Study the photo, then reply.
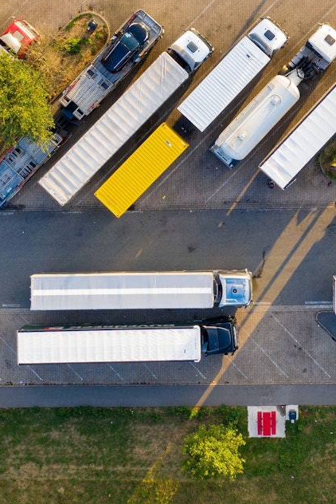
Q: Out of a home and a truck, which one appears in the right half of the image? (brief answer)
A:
truck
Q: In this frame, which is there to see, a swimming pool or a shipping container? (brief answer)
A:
shipping container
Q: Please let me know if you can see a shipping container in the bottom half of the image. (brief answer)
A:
No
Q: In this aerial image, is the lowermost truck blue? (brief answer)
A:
No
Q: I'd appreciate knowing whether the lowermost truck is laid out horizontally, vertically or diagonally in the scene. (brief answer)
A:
horizontally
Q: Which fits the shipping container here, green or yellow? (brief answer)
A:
yellow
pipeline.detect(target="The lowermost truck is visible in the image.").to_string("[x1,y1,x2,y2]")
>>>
[17,318,239,365]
